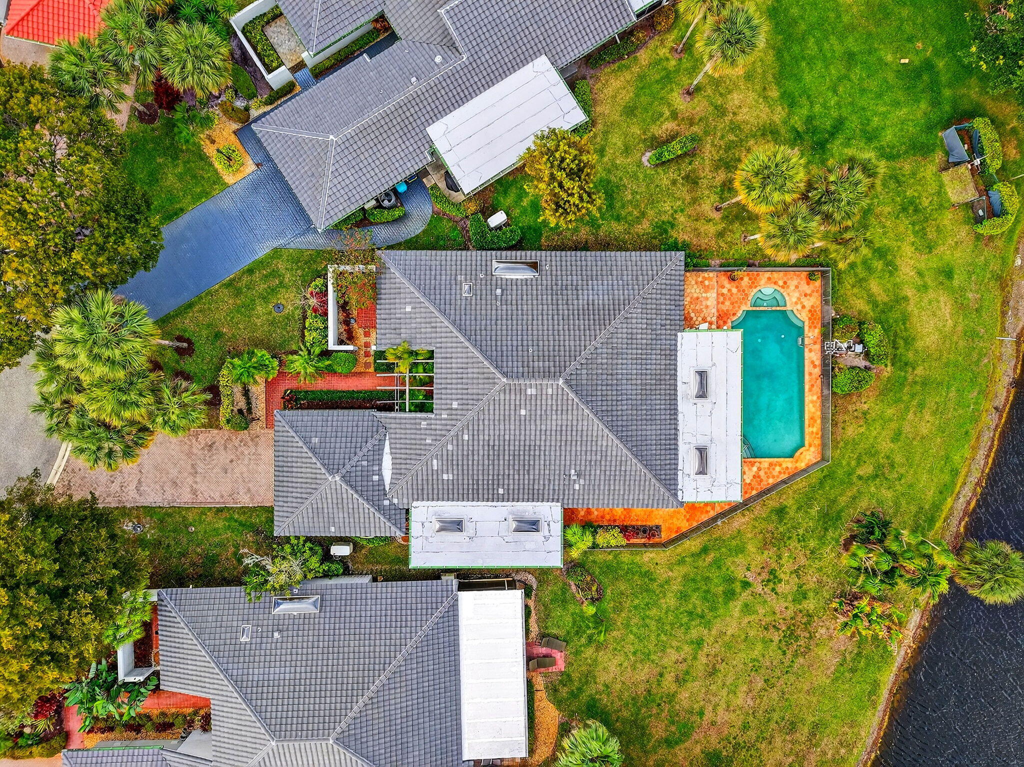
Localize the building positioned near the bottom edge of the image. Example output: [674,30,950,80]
[60,570,530,767]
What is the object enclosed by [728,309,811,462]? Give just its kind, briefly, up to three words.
swimming pool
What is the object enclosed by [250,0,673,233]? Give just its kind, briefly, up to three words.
house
